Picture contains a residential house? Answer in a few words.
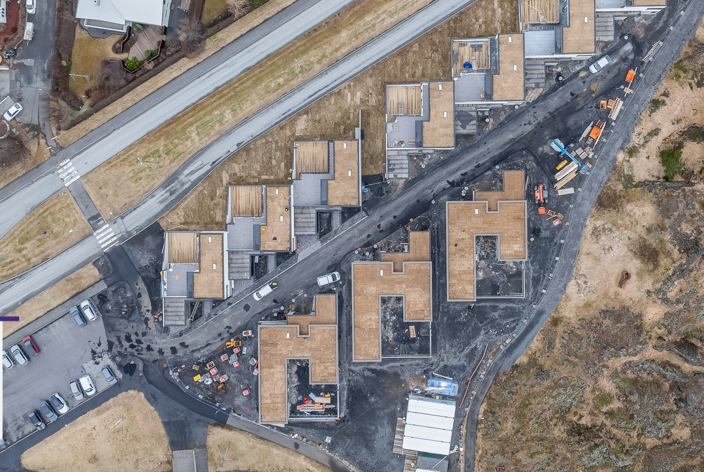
Yes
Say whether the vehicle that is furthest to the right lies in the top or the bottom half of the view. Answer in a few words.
top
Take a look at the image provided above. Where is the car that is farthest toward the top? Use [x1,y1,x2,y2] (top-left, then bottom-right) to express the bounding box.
[24,0,38,15]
